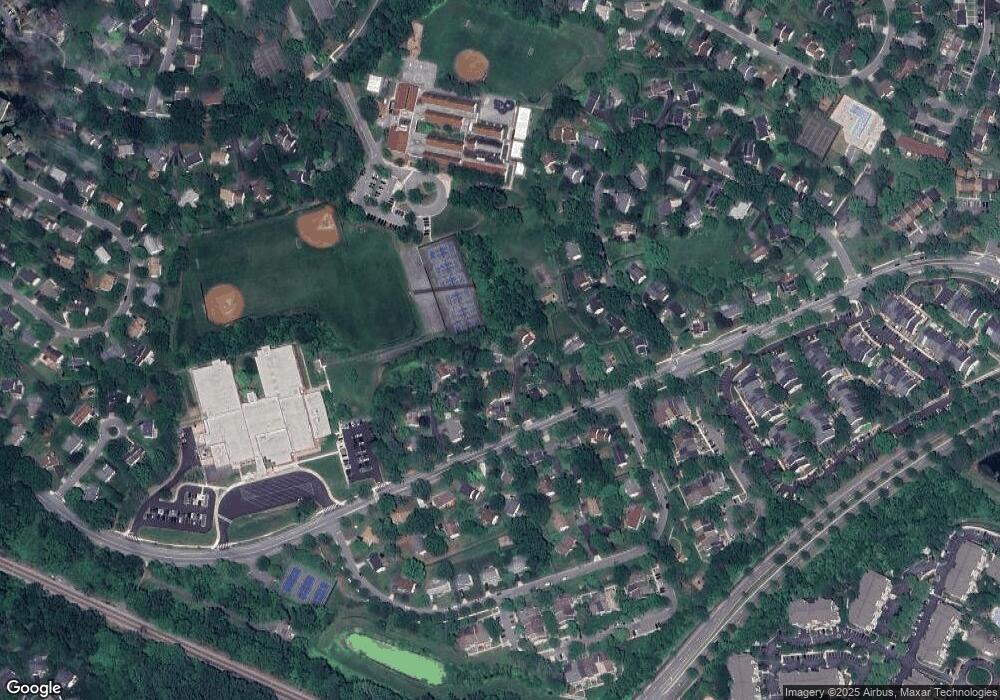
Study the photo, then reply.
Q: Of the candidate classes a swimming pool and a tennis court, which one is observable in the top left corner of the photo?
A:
tennis court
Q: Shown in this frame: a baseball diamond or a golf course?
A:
baseball diamond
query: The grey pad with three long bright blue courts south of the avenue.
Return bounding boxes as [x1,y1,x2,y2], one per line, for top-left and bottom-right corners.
[280,563,339,606]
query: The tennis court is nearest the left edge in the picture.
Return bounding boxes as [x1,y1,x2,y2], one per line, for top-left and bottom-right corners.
[253,41,286,78]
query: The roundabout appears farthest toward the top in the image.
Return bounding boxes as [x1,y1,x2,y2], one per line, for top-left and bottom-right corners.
[405,172,448,216]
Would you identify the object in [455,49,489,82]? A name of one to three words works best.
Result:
baseball field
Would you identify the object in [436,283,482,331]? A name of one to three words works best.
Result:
tennis court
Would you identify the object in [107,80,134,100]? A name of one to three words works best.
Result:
house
